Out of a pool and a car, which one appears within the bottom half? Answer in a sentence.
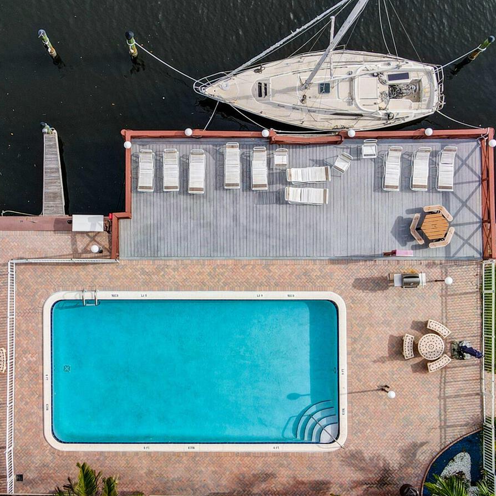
The one visible within the bottom half is a pool.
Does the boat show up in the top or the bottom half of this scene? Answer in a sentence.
You can find the boat in the top half.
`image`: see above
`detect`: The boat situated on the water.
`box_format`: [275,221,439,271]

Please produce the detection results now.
[194,0,445,131]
